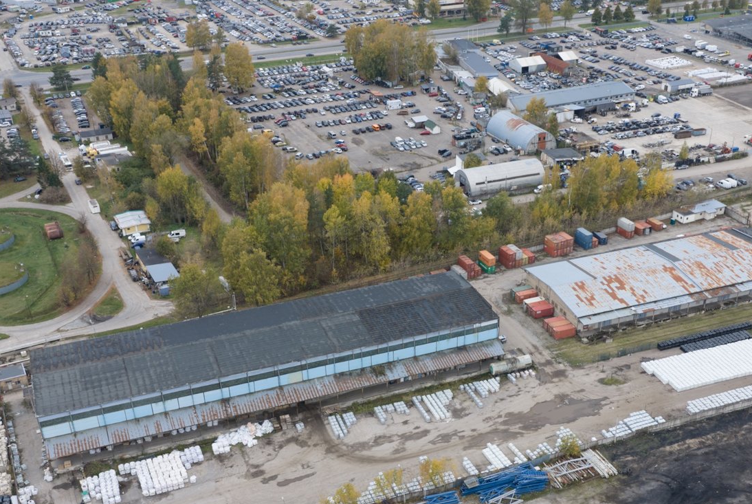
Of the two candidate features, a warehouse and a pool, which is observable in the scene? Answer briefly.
warehouse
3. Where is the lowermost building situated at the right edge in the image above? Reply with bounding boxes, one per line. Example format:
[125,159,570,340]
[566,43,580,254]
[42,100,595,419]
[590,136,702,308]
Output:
[524,222,752,347]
